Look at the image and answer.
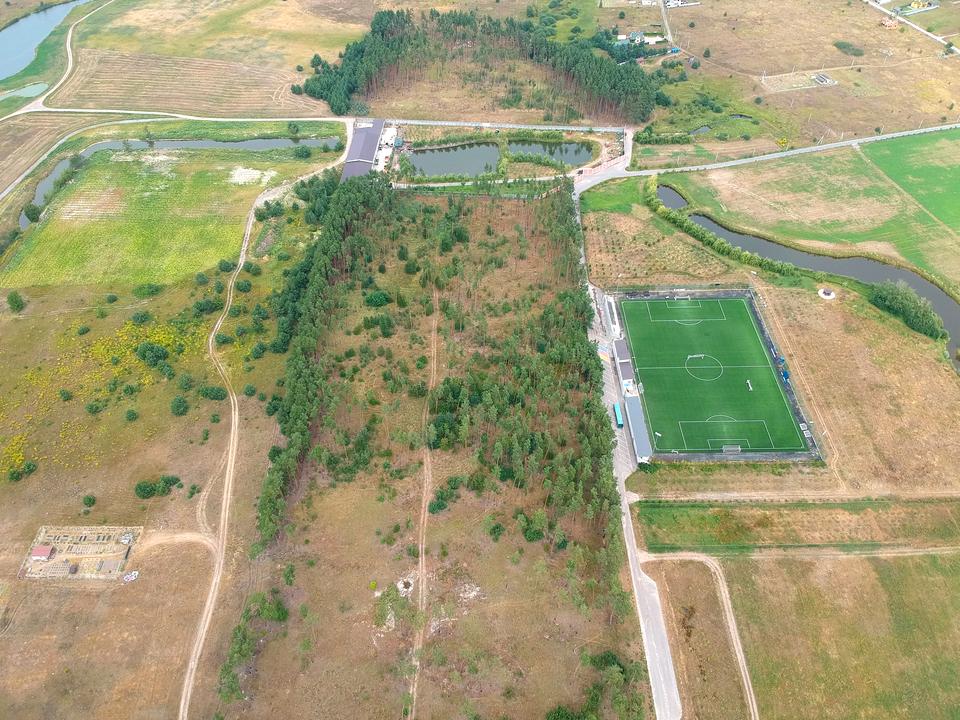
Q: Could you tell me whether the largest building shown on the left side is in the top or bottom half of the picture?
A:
top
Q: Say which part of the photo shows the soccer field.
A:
right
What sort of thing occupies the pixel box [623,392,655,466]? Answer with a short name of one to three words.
building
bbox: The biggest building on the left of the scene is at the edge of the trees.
[340,118,384,194]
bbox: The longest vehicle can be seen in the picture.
[610,400,624,428]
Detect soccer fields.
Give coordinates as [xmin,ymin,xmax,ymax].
[614,291,822,462]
